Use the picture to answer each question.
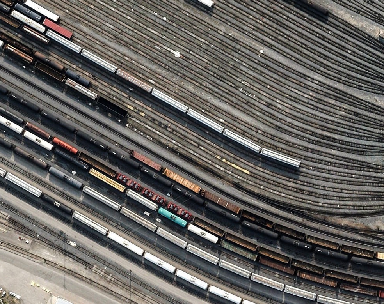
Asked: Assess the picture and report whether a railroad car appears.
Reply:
Yes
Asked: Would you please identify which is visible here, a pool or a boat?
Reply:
boat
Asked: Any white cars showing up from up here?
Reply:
No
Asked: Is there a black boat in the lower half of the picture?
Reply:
Yes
